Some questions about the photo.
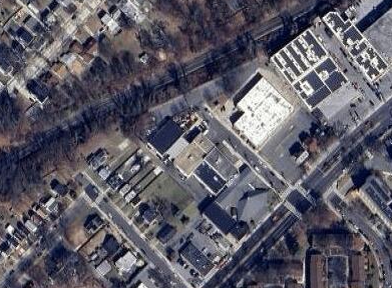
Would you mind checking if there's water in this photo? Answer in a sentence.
No, the scene doesn't show any water.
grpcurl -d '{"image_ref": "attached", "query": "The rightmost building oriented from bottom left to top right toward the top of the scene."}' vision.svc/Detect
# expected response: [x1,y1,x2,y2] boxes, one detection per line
[314,84,364,119]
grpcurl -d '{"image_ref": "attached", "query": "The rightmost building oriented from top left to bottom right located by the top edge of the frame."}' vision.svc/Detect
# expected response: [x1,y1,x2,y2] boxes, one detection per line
[323,11,388,84]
